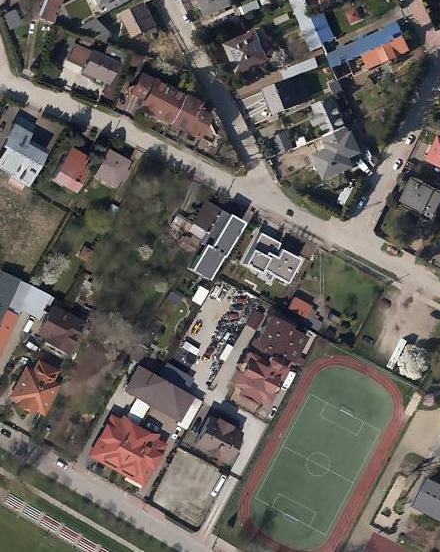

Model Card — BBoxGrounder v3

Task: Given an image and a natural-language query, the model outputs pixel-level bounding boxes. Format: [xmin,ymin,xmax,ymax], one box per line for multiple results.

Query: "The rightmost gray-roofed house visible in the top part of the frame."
[399,178,440,220]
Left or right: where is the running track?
right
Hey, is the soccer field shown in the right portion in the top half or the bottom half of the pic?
bottom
